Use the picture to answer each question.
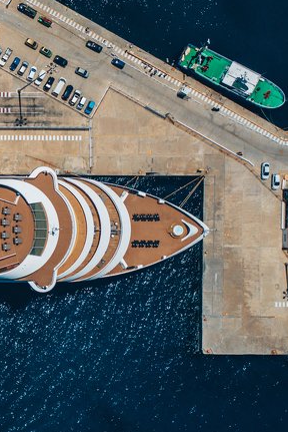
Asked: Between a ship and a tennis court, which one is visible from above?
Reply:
ship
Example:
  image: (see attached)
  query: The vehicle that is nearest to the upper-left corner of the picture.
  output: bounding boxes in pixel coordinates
[17,1,39,19]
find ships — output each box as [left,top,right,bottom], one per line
[0,166,209,292]
[176,40,285,108]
